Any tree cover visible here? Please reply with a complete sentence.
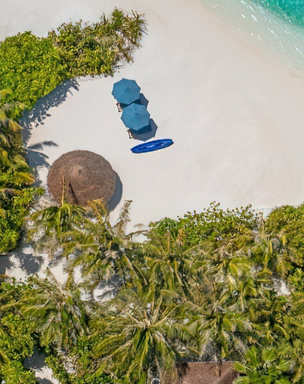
Yes, tree cover shows up in the scene.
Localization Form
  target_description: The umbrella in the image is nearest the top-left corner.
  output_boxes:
[113,77,140,105]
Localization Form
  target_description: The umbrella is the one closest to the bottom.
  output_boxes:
[121,103,150,132]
